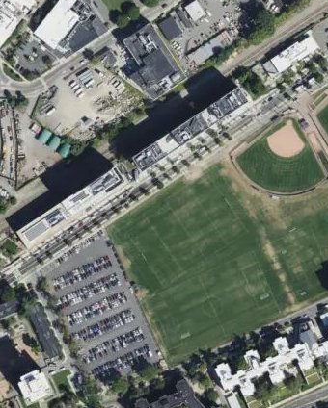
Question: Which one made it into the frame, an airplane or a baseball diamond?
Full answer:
The one in the frame is a baseball diamond.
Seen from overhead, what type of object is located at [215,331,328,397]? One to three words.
building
